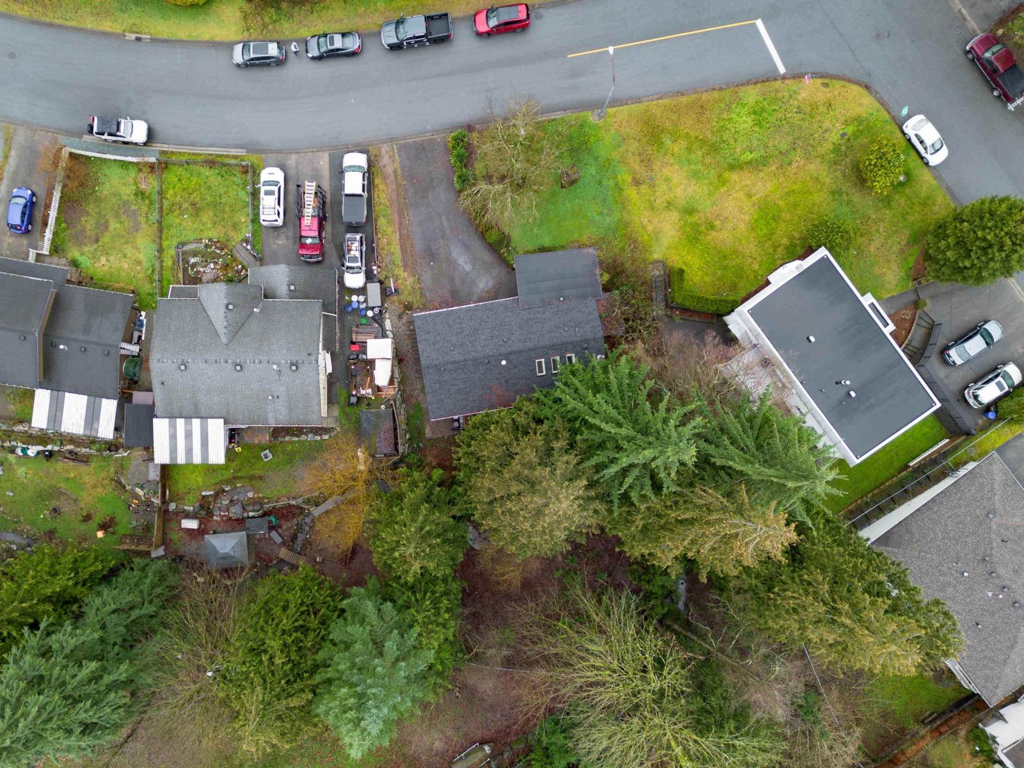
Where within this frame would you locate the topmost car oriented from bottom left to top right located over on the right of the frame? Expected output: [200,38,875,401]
[942,320,999,367]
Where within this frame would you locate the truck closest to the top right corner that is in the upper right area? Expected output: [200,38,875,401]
[969,38,1024,111]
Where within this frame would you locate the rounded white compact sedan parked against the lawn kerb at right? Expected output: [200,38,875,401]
[901,112,947,167]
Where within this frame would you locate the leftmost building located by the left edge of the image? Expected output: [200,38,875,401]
[0,256,138,400]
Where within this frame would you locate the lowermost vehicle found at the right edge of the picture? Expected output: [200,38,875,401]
[961,362,1021,410]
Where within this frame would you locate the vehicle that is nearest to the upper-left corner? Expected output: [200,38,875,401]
[87,112,150,144]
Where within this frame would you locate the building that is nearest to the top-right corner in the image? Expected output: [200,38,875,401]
[729,248,941,467]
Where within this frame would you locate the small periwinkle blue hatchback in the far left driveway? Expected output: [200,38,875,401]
[8,186,39,235]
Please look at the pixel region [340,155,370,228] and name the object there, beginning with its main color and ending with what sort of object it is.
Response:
white truck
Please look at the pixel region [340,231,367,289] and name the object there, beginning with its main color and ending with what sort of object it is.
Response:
white truck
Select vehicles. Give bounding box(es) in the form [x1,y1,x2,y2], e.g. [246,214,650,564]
[474,4,531,37]
[381,13,456,50]
[231,37,288,68]
[340,155,370,228]
[901,112,947,167]
[961,362,1021,410]
[87,112,150,144]
[294,186,327,261]
[258,168,288,227]
[942,320,999,367]
[305,31,364,61]
[340,231,367,289]
[969,38,1024,111]
[8,186,39,235]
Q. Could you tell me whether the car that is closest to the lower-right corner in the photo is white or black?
white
